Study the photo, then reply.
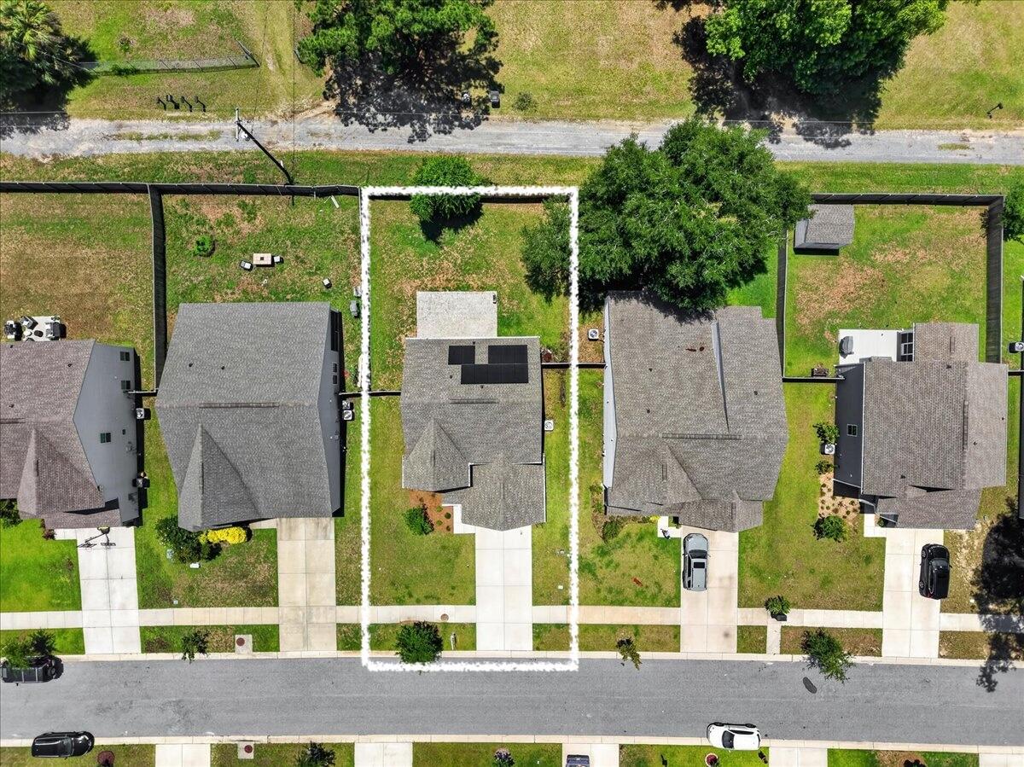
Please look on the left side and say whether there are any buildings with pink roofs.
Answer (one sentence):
No, looking on the left side, there is no building with a pink roof.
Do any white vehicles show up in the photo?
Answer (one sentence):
Yes, the picture does show a white vehicle.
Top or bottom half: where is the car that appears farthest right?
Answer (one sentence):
The bottom half of the photo is where the car that appears farthest right is.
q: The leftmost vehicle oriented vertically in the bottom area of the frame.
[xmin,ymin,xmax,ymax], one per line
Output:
[682,533,709,589]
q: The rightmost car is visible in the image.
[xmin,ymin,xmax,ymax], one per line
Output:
[919,544,951,597]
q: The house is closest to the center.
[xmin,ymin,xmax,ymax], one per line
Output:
[401,337,546,526]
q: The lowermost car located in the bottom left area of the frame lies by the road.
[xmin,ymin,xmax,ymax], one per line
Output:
[33,730,92,762]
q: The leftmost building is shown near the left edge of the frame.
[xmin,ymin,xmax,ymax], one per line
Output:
[0,343,138,527]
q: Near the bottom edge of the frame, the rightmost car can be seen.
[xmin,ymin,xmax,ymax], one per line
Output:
[707,723,759,752]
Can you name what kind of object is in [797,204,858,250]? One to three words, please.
shed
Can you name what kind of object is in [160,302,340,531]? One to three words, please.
house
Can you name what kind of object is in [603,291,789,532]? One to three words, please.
house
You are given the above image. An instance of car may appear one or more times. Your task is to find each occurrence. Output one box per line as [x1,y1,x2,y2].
[0,656,54,686]
[682,533,709,589]
[33,730,92,762]
[707,723,759,752]
[919,544,951,597]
